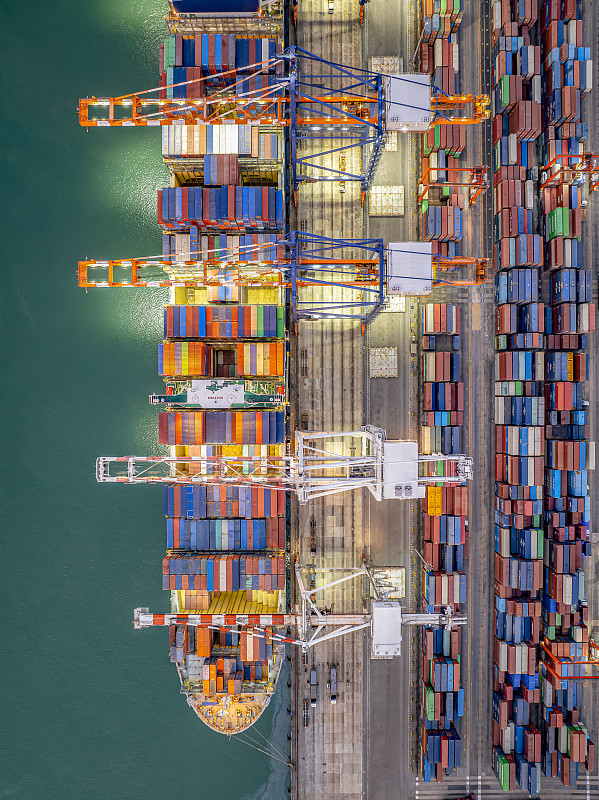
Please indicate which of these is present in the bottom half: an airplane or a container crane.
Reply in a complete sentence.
You can see a container crane in the bottom half.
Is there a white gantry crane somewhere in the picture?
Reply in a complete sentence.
Yes, a white gantry crane is visible in the scene.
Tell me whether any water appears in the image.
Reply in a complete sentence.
Yes, water can be seen from above here.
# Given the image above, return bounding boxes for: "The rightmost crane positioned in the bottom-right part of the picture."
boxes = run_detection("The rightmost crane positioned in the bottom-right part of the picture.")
[540,638,599,685]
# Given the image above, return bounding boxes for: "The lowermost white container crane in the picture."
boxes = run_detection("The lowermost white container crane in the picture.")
[131,551,469,655]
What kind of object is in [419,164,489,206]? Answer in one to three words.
container crane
